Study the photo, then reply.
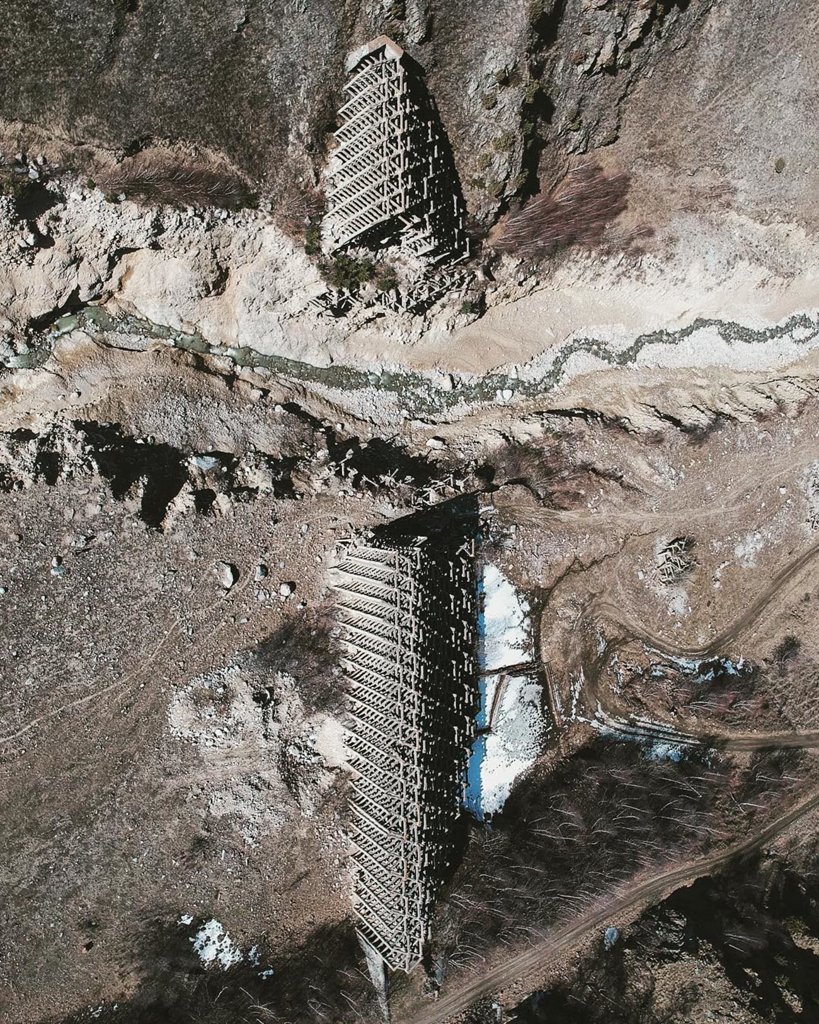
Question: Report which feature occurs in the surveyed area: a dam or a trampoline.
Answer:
dam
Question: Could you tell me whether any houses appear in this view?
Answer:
No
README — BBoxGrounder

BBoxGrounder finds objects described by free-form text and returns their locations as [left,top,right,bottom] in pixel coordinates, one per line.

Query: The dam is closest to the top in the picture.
[321,58,463,253]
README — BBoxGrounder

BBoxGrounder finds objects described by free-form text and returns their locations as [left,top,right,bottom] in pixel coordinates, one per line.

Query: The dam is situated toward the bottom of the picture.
[331,540,479,975]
